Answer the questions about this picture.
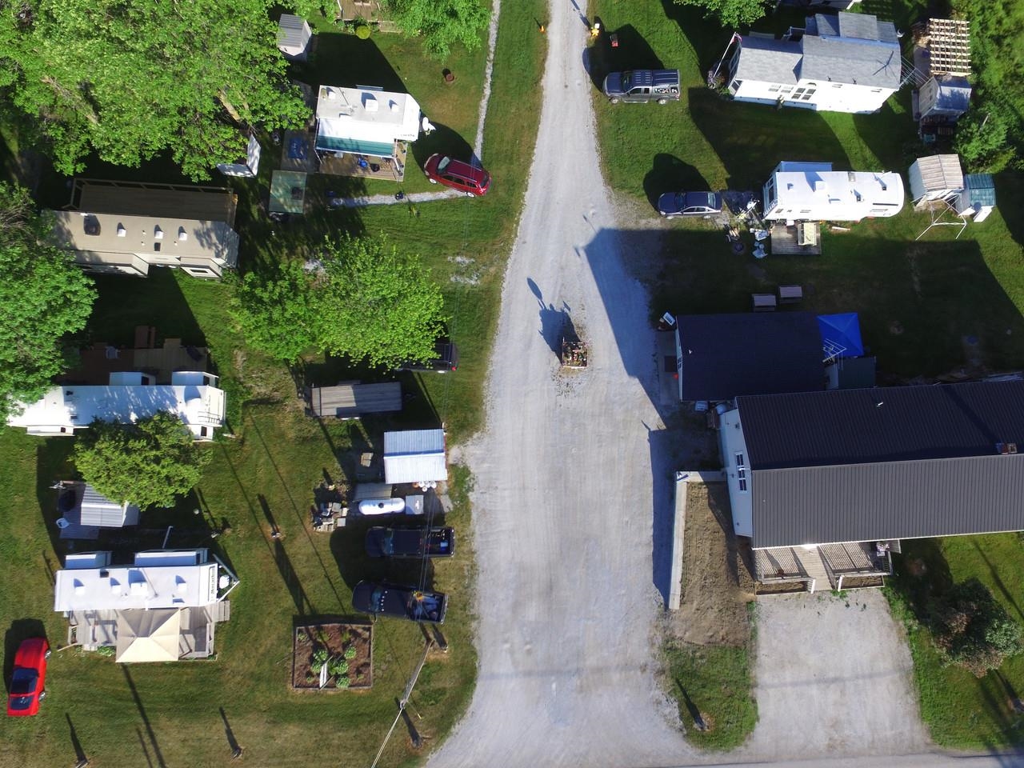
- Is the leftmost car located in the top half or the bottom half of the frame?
bottom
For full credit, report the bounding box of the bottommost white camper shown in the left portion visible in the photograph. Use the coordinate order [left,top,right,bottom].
[54,545,239,611]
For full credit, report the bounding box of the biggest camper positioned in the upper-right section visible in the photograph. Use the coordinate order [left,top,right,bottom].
[762,161,903,227]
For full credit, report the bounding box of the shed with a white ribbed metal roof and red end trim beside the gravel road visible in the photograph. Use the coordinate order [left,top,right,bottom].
[382,429,448,484]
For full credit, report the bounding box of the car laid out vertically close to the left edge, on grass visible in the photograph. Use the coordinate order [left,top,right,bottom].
[4,634,57,722]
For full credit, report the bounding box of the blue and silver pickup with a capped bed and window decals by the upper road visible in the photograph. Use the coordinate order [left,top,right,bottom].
[602,69,683,106]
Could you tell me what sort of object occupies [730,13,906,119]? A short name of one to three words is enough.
house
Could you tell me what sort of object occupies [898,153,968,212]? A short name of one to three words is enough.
shed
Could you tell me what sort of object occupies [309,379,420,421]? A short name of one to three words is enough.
trailer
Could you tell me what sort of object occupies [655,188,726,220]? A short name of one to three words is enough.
car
